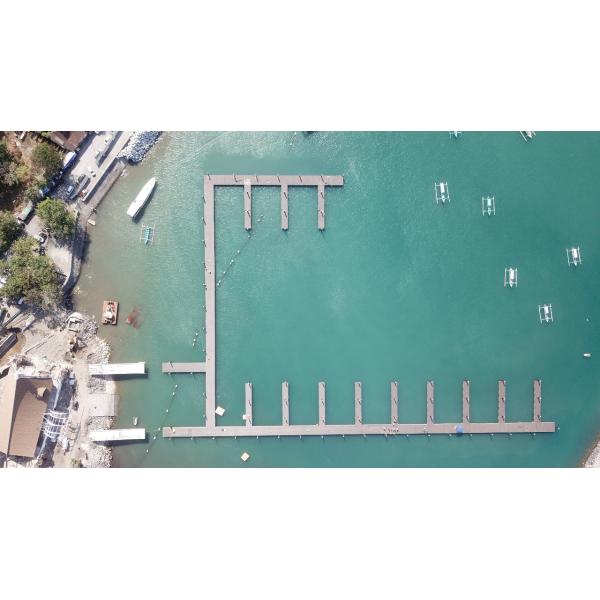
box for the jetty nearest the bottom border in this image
[90,428,146,442]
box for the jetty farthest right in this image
[162,176,555,438]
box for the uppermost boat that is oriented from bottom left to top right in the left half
[126,178,156,218]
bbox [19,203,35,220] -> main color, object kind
white vehicle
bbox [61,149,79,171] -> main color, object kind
white vehicle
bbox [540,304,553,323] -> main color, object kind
white boat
